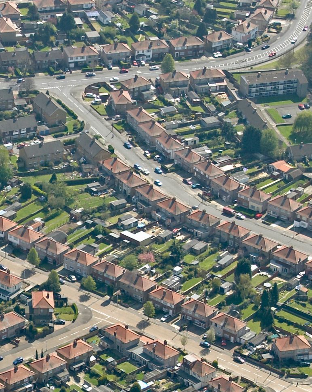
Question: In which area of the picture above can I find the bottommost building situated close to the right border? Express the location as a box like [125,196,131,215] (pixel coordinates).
[272,339,311,370]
